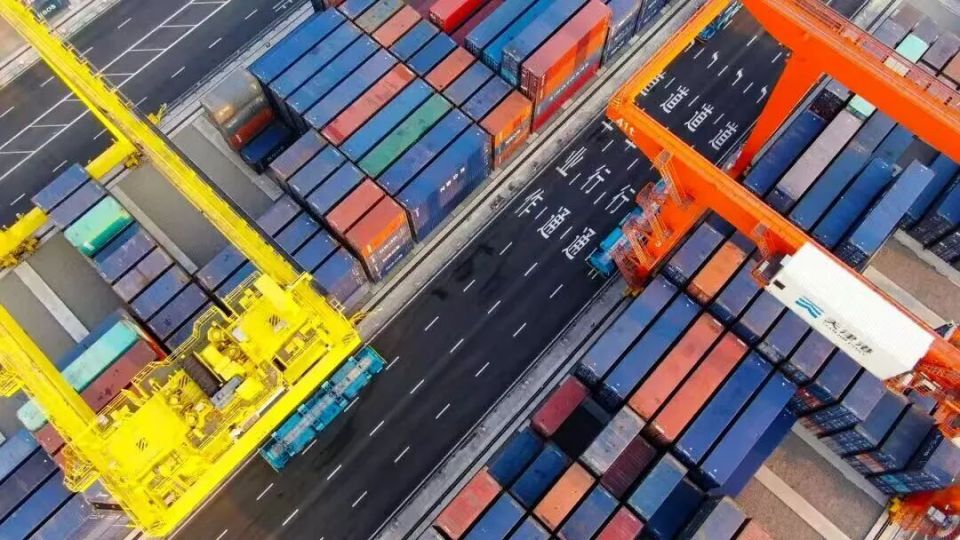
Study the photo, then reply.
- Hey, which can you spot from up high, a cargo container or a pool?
cargo container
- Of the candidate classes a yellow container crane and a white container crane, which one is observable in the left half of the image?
yellow container crane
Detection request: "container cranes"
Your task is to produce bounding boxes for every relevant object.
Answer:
[599,0,960,540]
[0,0,373,540]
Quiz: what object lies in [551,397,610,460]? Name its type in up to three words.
shipping container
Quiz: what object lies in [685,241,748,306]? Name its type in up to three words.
shipping container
